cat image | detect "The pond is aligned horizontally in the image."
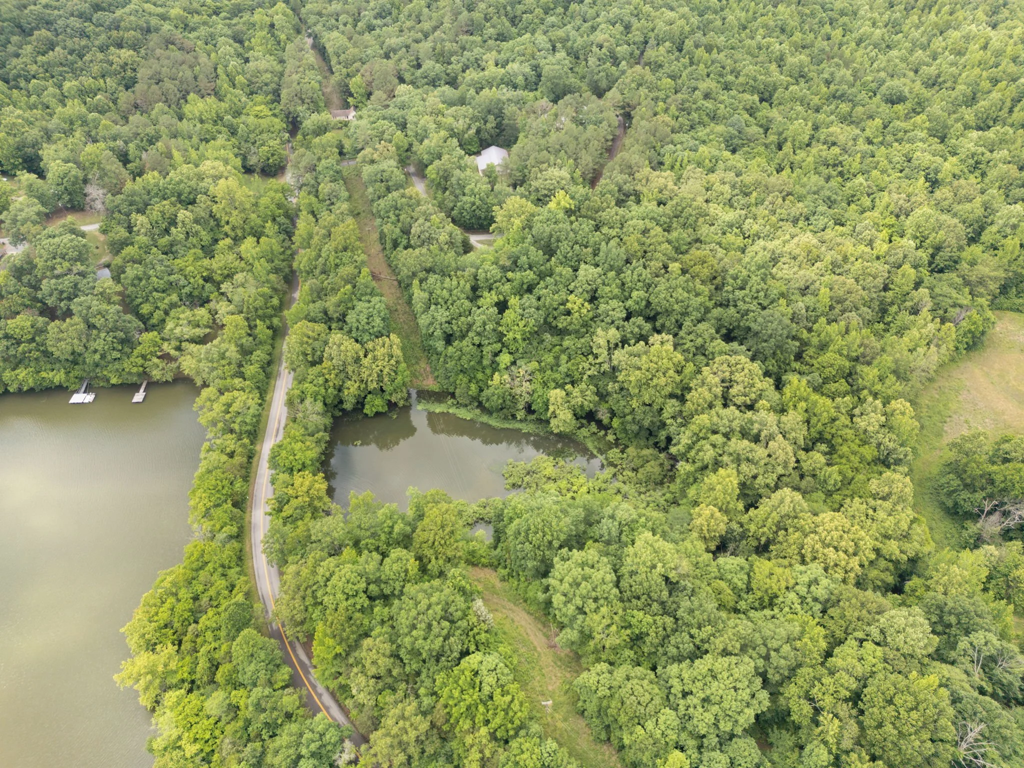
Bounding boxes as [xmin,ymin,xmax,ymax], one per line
[323,389,649,537]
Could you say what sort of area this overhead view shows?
forest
